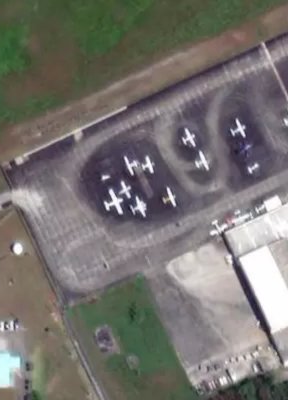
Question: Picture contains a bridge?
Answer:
No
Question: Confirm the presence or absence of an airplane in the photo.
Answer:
Yes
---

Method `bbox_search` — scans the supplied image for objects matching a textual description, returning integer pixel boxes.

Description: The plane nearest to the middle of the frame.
[130,196,147,217]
